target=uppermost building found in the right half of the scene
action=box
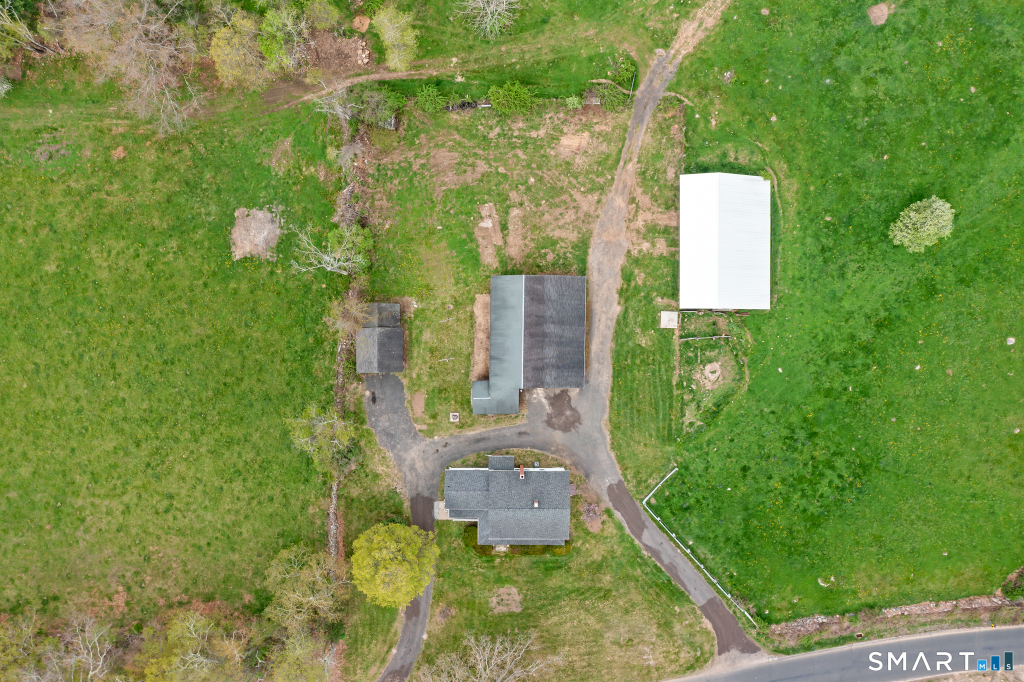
[675,172,771,309]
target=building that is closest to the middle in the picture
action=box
[472,275,587,414]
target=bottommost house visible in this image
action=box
[444,454,577,554]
